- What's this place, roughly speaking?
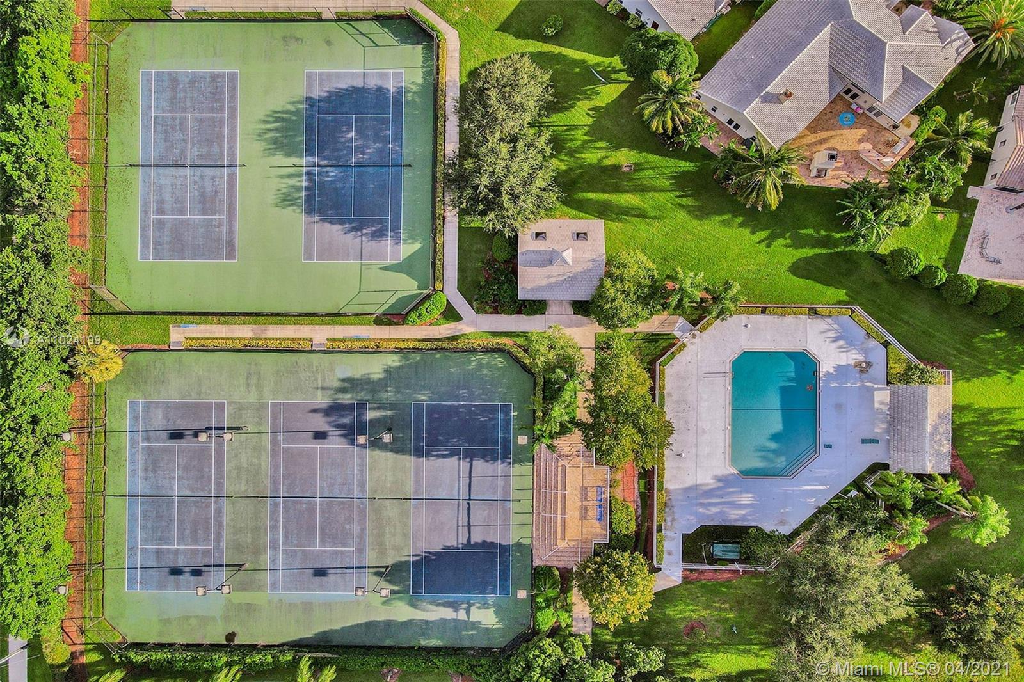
sports ground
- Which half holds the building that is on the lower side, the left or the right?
right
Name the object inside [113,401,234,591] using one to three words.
tennis court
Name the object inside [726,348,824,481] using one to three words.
swimming pool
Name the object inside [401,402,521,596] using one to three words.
tennis court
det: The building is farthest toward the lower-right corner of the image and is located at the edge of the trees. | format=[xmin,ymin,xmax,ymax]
[882,384,954,475]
